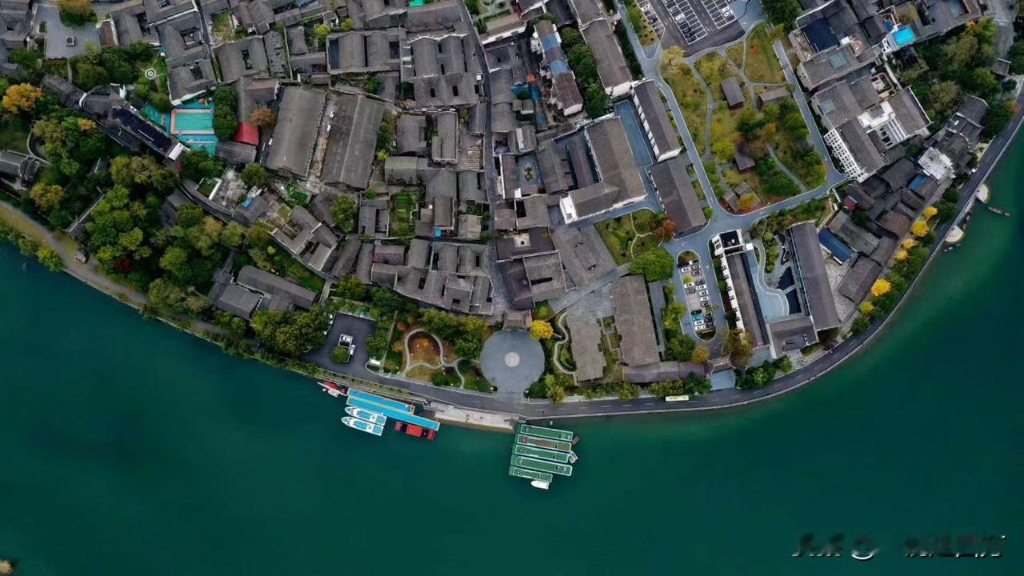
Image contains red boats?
Yes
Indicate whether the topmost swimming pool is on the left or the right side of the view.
right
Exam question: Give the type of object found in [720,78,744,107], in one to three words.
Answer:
building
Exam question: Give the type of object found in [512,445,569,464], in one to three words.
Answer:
vessel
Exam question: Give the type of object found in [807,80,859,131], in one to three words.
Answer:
house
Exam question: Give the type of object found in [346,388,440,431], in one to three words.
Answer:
pier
